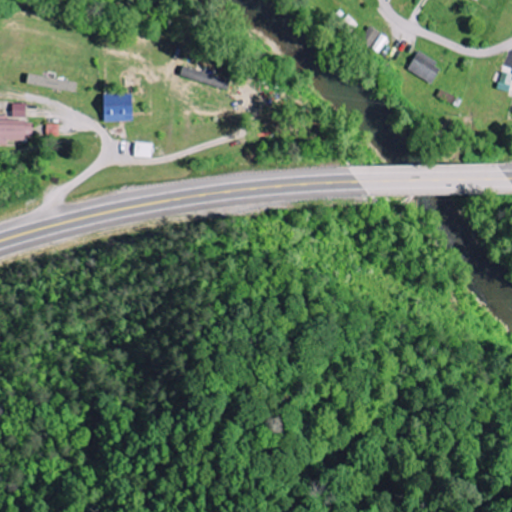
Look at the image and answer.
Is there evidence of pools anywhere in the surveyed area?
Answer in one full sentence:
No, I can see no pool in this picture.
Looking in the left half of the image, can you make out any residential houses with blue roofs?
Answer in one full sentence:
Yes, in the left half of the image there is a residential house with a blue roof.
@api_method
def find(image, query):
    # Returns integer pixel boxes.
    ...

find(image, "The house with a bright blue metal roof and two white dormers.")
[104,94,133,126]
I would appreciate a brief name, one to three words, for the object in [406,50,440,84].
house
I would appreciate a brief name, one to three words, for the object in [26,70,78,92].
house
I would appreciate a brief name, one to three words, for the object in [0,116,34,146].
building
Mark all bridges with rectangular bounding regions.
[354,164,512,196]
